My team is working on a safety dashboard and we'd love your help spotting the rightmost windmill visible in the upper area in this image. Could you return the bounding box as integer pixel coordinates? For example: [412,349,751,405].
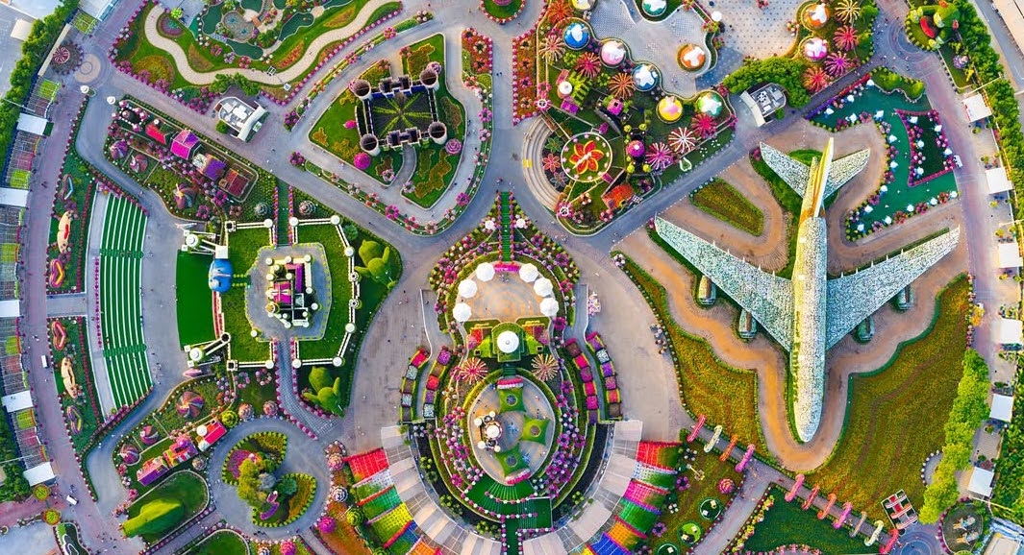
[169,185,199,209]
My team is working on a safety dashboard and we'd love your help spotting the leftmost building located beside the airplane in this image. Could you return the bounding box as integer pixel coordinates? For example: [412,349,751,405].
[731,78,789,130]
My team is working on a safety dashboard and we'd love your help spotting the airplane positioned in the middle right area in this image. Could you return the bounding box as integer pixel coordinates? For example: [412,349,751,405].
[655,138,959,442]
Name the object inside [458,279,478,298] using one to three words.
umbrella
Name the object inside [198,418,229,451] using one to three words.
house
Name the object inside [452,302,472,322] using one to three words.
umbrella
